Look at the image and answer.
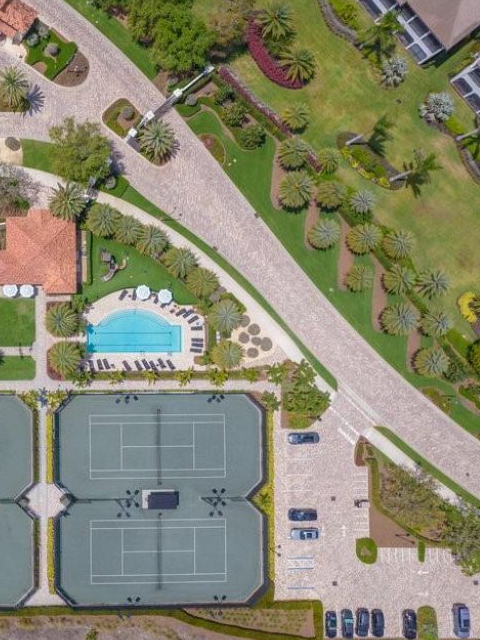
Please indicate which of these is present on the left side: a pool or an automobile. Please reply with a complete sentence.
You can see a pool on the left side.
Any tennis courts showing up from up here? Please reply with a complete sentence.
Yes, the photo shows a tennis court.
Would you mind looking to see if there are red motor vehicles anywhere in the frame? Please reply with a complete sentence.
No, no red motor vehicle is visible in the view.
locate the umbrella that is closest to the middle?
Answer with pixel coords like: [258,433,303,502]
[157,289,172,304]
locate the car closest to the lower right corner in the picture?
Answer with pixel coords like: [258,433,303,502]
[452,604,471,639]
